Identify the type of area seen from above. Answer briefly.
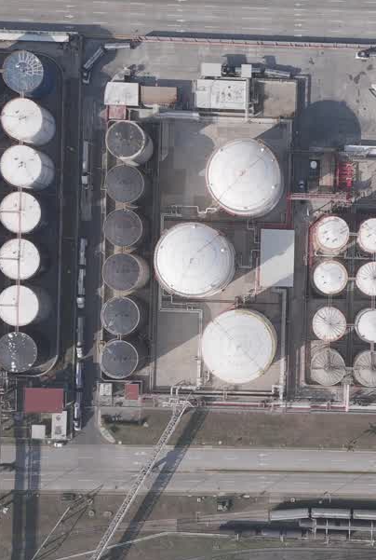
industrial area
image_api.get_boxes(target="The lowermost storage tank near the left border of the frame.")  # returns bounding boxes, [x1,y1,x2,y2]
[0,327,50,371]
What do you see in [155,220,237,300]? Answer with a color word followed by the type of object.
white storage tank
